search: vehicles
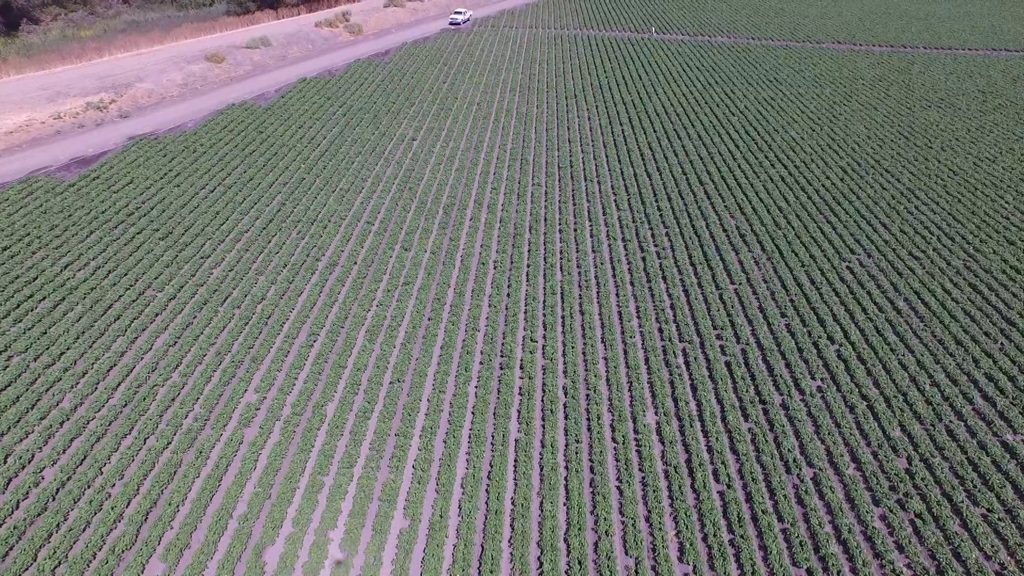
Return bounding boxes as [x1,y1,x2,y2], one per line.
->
[450,9,473,25]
